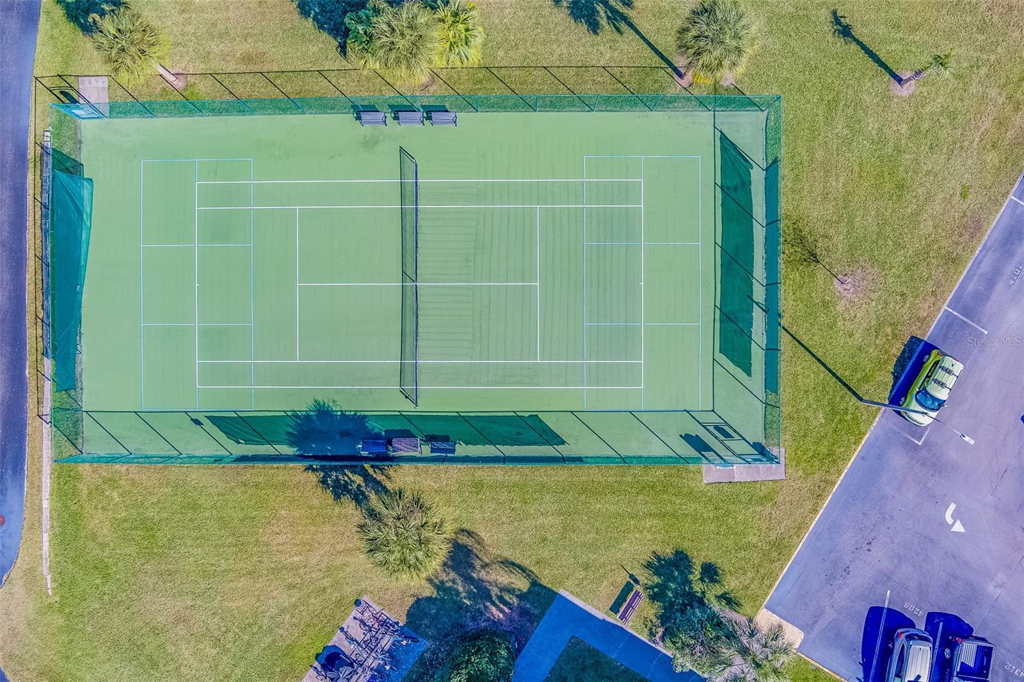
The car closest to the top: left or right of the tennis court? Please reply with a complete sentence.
Relative to the tennis court, the car closest to the top is on the right.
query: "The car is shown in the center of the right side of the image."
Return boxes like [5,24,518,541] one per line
[899,346,968,429]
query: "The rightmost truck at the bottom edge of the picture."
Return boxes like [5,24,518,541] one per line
[945,633,998,682]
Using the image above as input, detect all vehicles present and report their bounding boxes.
[883,627,937,682]
[945,633,998,682]
[899,346,968,429]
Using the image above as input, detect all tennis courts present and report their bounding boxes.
[81,110,767,456]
